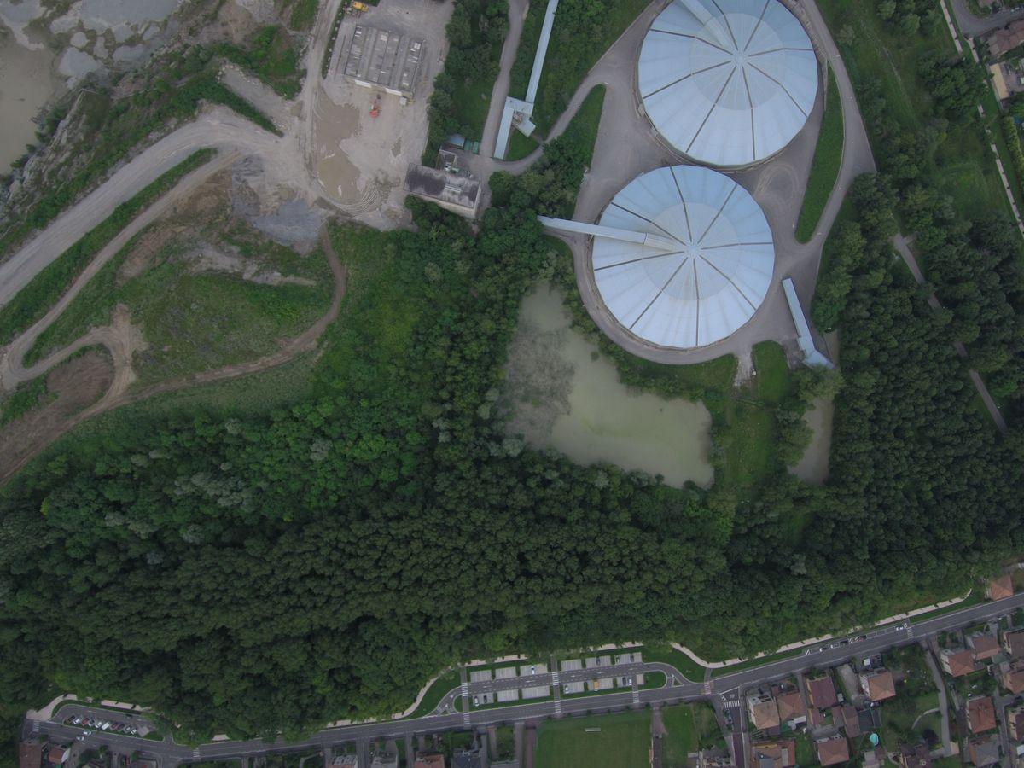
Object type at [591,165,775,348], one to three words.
storage tank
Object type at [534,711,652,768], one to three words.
sports field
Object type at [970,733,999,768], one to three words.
house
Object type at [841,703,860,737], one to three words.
building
